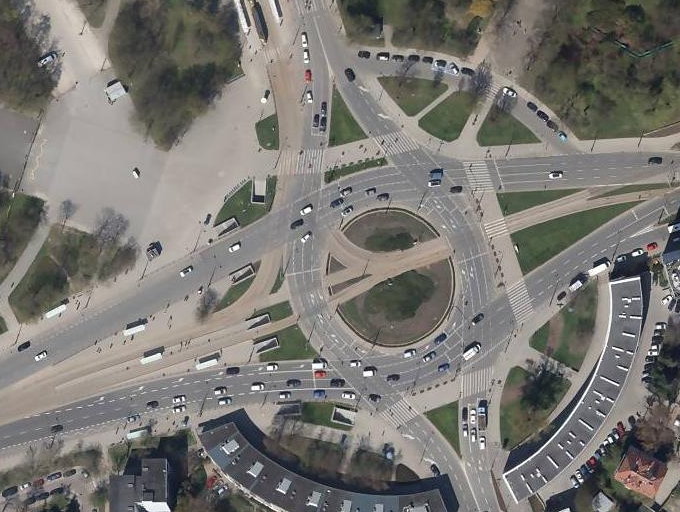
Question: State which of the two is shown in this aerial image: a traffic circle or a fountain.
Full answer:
Looking from above, you can make out a traffic circle.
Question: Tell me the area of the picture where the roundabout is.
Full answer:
The roundabout is in the center part of the image.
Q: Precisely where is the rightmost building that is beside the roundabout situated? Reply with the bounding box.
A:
[504,277,643,504]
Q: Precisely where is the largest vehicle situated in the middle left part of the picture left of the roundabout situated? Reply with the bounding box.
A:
[148,242,161,258]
